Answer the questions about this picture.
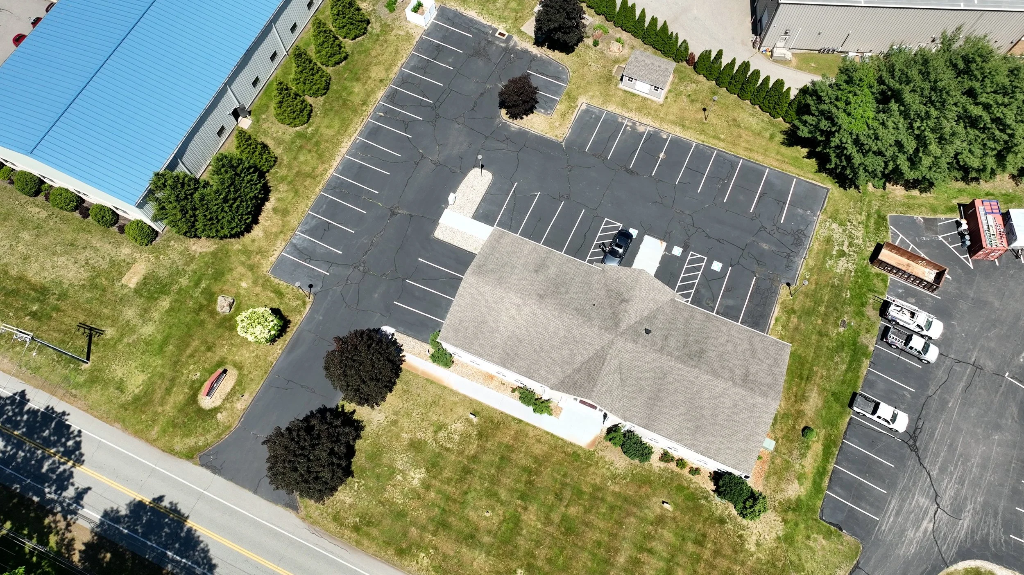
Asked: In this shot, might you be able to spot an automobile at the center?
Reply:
Yes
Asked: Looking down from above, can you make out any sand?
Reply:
No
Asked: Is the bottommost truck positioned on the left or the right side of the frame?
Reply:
right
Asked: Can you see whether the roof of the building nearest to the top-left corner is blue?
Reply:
Yes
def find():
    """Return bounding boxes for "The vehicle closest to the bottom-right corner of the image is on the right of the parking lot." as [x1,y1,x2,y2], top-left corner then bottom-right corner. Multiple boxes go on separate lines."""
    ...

[850,392,909,433]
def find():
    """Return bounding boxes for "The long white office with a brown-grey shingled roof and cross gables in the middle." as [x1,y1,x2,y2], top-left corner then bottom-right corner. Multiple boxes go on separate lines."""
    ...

[438,225,790,478]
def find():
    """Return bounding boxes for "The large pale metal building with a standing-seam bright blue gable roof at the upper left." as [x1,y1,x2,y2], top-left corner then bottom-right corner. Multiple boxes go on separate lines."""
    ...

[0,0,325,233]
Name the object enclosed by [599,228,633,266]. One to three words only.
car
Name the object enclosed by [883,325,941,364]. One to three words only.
truck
